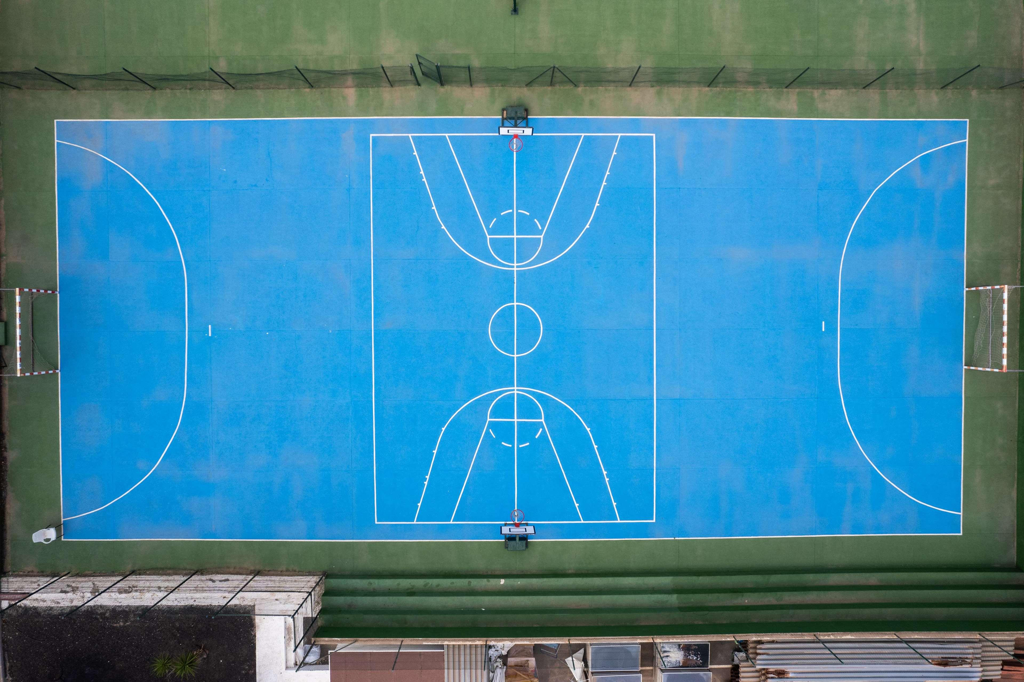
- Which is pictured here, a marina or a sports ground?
sports ground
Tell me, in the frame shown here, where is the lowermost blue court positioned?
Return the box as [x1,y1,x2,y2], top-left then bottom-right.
[0,86,1024,573]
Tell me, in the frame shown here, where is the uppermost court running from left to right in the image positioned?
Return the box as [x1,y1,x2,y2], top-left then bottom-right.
[0,0,1024,86]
